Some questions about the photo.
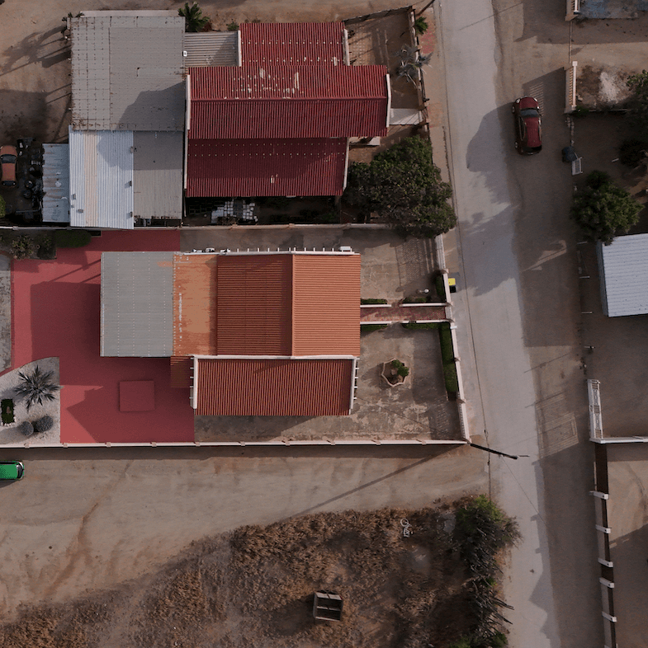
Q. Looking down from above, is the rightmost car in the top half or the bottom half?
top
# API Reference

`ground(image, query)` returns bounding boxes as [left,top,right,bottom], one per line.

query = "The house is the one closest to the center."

[171,248,360,416]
